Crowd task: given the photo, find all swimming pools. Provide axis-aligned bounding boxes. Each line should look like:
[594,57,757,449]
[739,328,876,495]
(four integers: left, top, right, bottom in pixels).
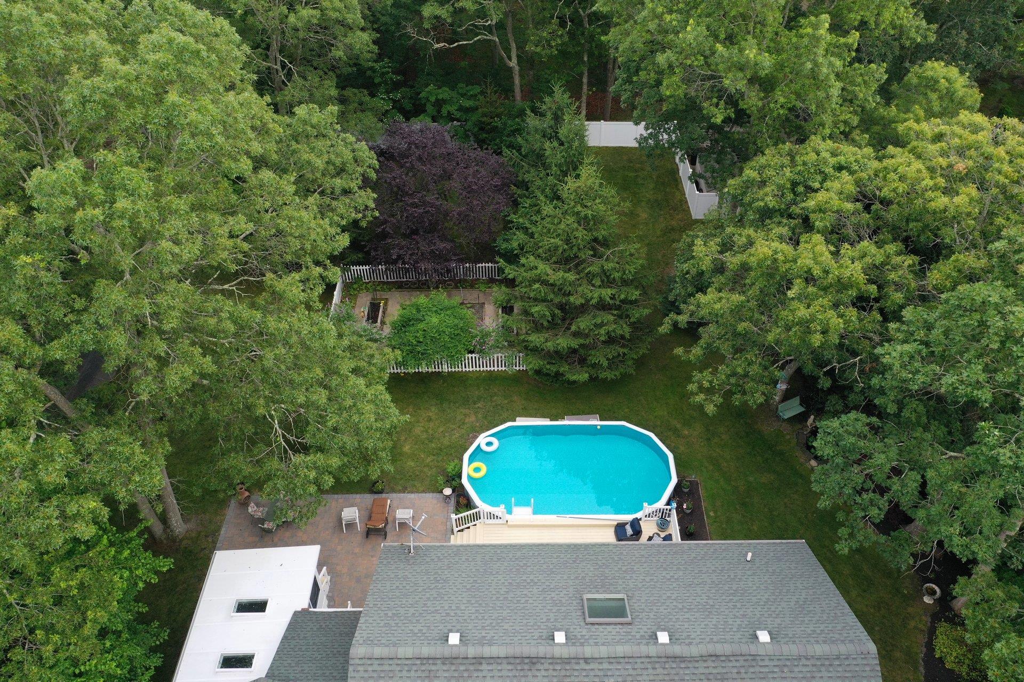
[459,422,681,529]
